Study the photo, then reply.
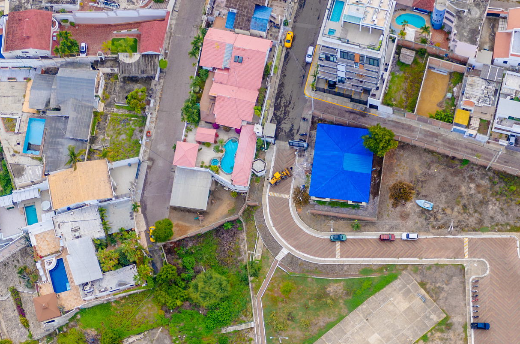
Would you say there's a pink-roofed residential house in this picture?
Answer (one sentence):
Yes, the frame does contain a pink-roofed residential house.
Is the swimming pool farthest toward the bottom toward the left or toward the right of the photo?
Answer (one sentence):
The swimming pool farthest toward the bottom is on the left side of the image.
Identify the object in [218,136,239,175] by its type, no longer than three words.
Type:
swimming pool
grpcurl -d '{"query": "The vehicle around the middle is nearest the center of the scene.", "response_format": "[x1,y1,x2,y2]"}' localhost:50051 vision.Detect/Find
[266,166,292,183]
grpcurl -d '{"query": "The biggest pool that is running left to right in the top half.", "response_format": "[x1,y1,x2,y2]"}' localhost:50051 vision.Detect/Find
[394,12,427,29]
